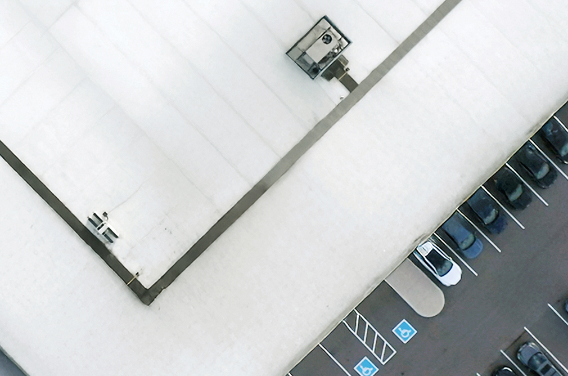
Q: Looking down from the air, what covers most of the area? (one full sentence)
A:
For the most part, this view shows buildings.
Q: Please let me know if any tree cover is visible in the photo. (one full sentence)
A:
No, tree cover can't be seen anywhere here.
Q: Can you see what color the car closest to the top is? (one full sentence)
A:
The car closest to the top looks black in the image.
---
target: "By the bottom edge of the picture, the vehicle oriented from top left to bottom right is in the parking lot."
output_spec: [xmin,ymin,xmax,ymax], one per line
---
[514,340,567,376]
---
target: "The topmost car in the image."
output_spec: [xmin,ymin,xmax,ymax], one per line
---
[532,118,568,164]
